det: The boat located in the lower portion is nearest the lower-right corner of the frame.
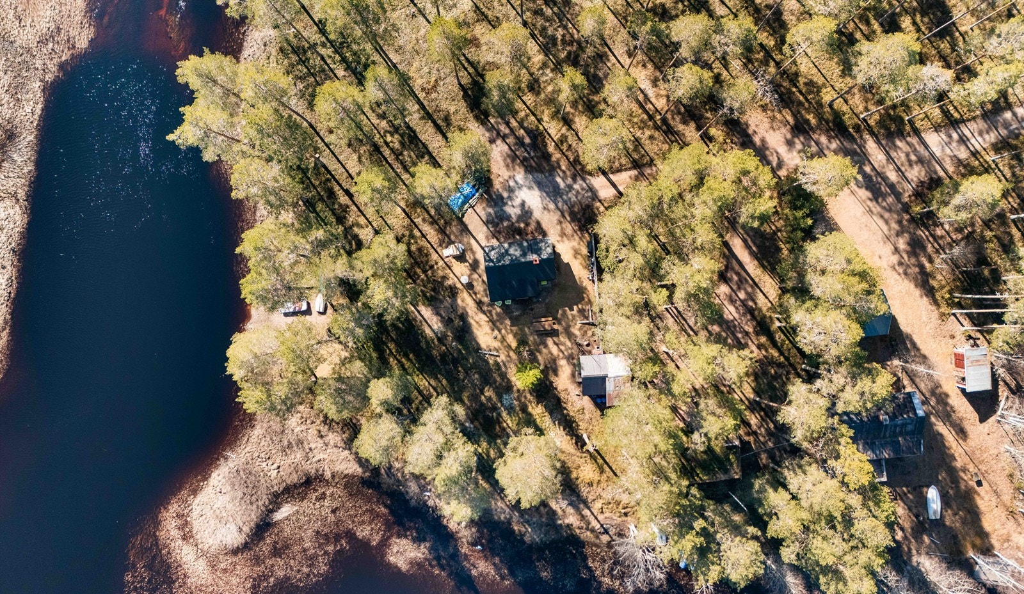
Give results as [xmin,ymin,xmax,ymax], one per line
[925,484,939,520]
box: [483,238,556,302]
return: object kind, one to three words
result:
building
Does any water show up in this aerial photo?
Yes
